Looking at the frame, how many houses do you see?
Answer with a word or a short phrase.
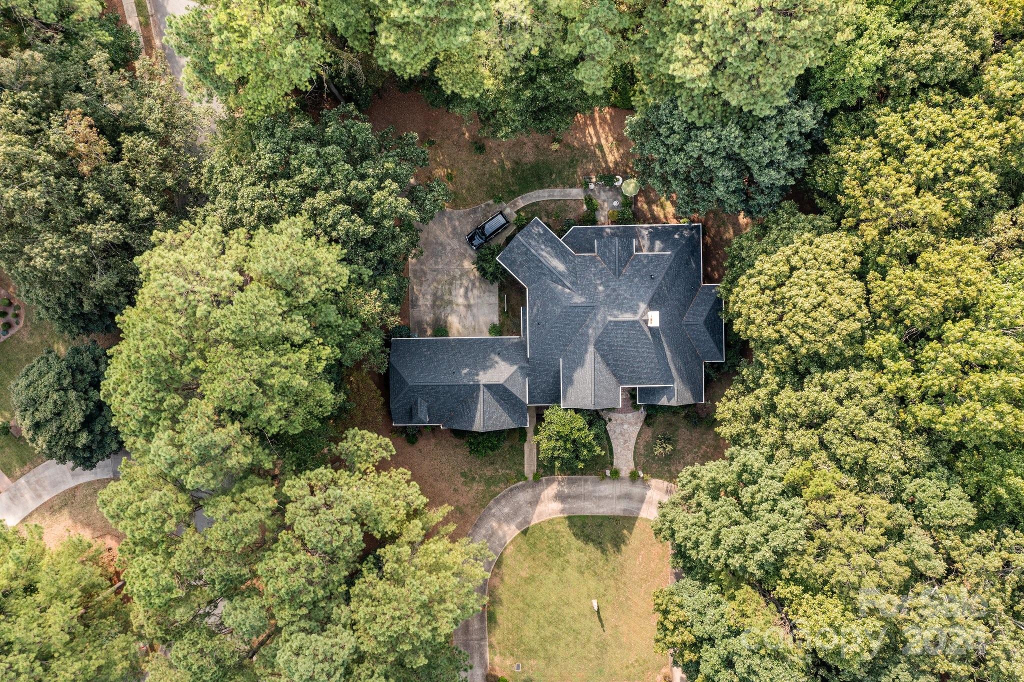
1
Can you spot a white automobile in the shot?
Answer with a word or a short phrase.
No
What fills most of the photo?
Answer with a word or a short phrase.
trees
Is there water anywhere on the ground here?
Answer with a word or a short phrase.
No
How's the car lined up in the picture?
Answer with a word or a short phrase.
at an angle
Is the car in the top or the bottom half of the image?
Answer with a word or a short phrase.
top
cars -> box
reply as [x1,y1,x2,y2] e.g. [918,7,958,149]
[467,212,510,248]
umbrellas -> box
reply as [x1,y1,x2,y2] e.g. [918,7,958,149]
[621,178,639,196]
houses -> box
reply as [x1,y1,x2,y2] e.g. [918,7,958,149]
[389,217,725,432]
